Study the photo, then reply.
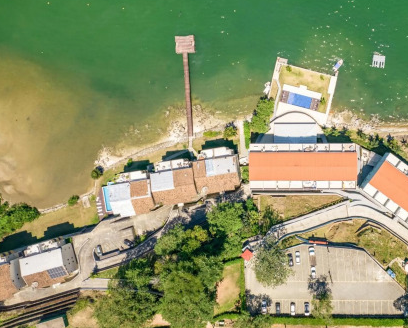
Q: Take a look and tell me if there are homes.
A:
Yes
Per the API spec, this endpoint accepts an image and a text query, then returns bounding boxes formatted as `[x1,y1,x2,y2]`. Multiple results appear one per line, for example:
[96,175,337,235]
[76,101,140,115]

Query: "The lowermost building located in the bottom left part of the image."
[36,310,69,328]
